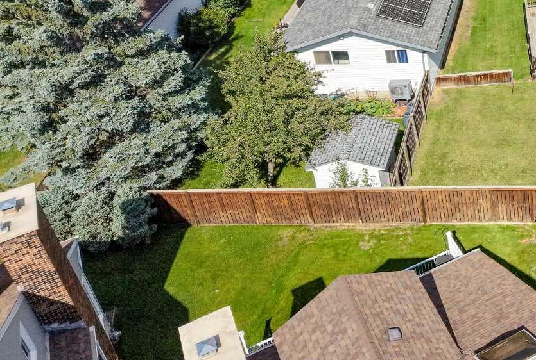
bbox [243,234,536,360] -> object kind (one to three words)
house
